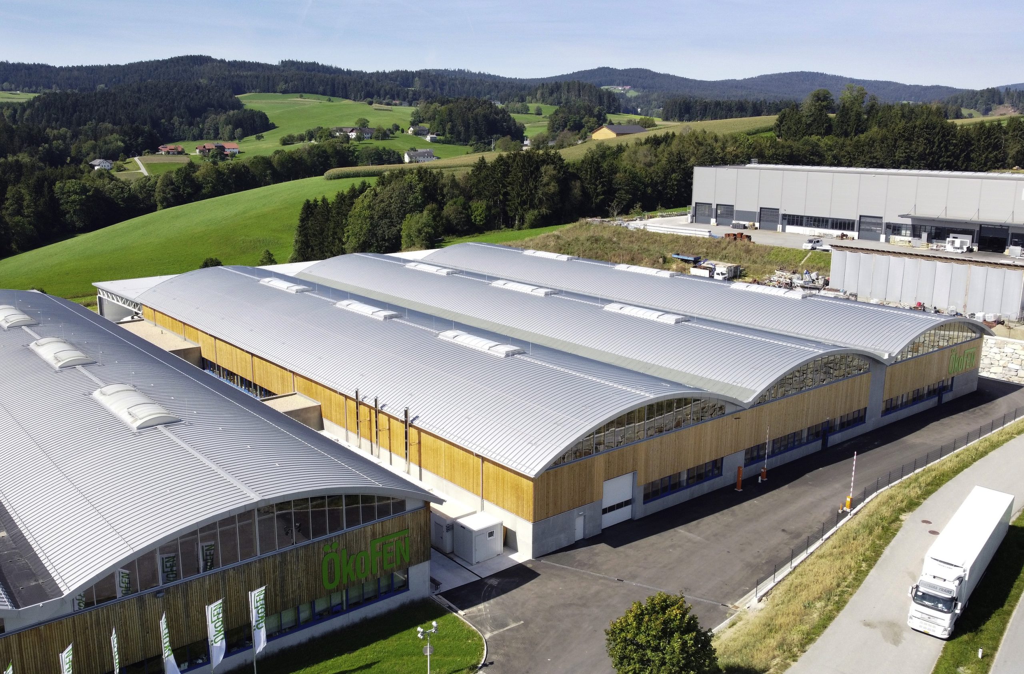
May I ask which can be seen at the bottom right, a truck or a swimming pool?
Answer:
truck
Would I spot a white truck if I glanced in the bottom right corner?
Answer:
Yes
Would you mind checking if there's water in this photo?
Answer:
No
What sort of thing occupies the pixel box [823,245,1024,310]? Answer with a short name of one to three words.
shed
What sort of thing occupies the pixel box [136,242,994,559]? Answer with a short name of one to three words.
building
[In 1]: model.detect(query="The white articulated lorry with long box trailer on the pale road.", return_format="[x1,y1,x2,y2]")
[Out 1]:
[904,487,1015,643]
